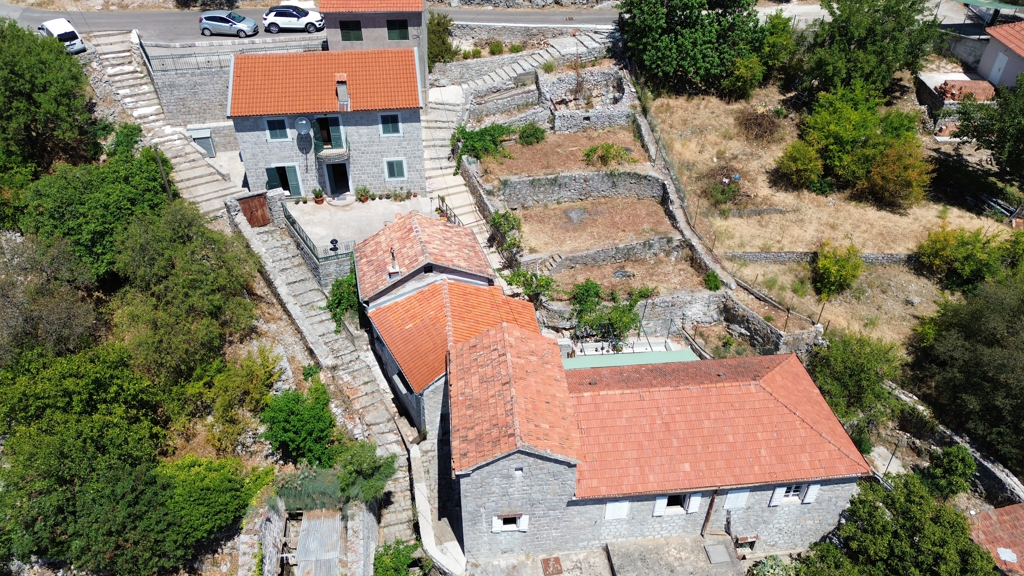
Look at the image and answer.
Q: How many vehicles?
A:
3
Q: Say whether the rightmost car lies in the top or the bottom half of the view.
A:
top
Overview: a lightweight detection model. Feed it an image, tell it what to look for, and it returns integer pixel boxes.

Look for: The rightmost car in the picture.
[258,3,326,33]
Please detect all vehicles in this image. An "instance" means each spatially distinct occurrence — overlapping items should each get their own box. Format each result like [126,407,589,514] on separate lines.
[258,3,326,33]
[32,20,90,59]
[193,8,260,38]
